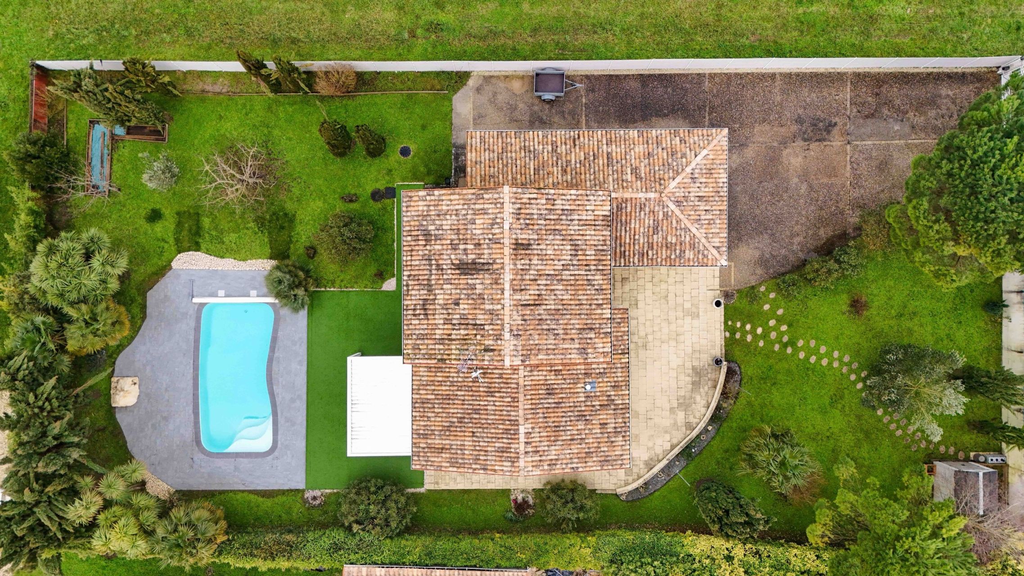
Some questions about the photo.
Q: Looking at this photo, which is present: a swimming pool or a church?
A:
swimming pool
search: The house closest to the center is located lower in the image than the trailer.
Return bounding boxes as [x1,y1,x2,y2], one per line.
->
[399,126,730,479]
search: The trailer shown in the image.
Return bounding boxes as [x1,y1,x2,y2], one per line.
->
[534,67,584,102]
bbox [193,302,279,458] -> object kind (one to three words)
swimming pool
